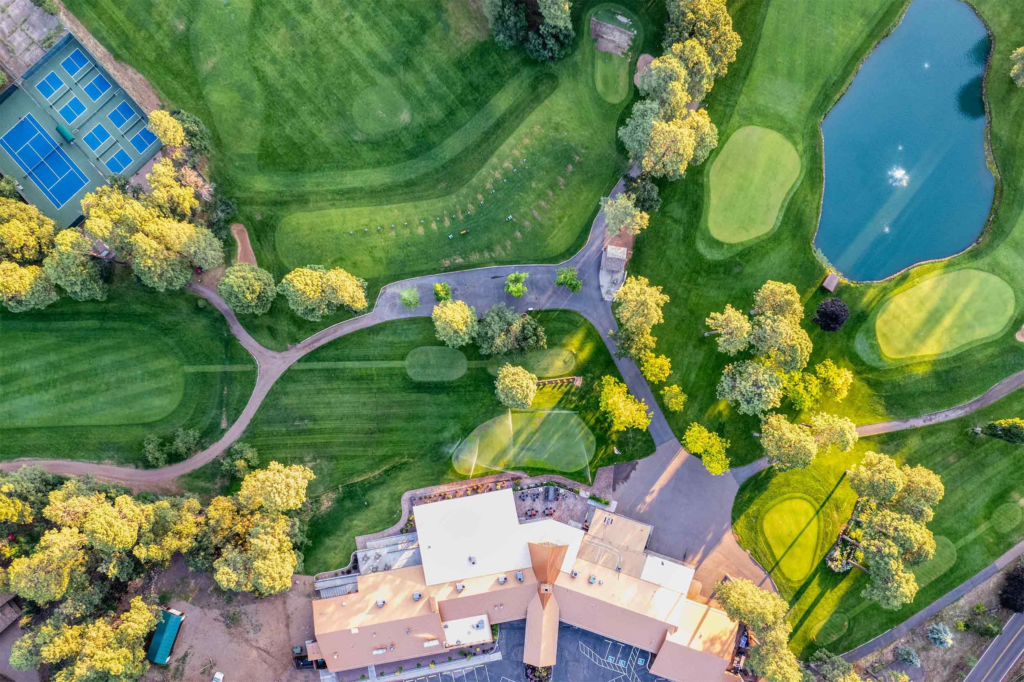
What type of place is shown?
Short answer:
golf course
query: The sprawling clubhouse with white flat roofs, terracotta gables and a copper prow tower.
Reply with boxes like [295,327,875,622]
[307,485,739,682]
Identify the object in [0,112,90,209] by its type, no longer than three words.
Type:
tennis court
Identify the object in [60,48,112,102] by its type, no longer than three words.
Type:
sports court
